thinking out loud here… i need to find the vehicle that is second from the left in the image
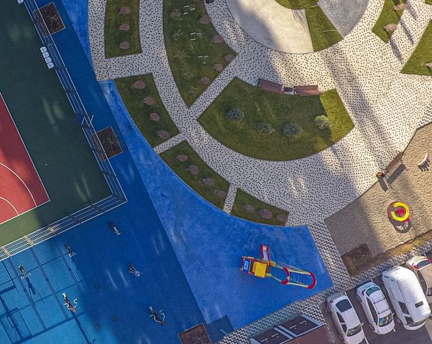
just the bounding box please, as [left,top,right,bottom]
[325,292,368,344]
